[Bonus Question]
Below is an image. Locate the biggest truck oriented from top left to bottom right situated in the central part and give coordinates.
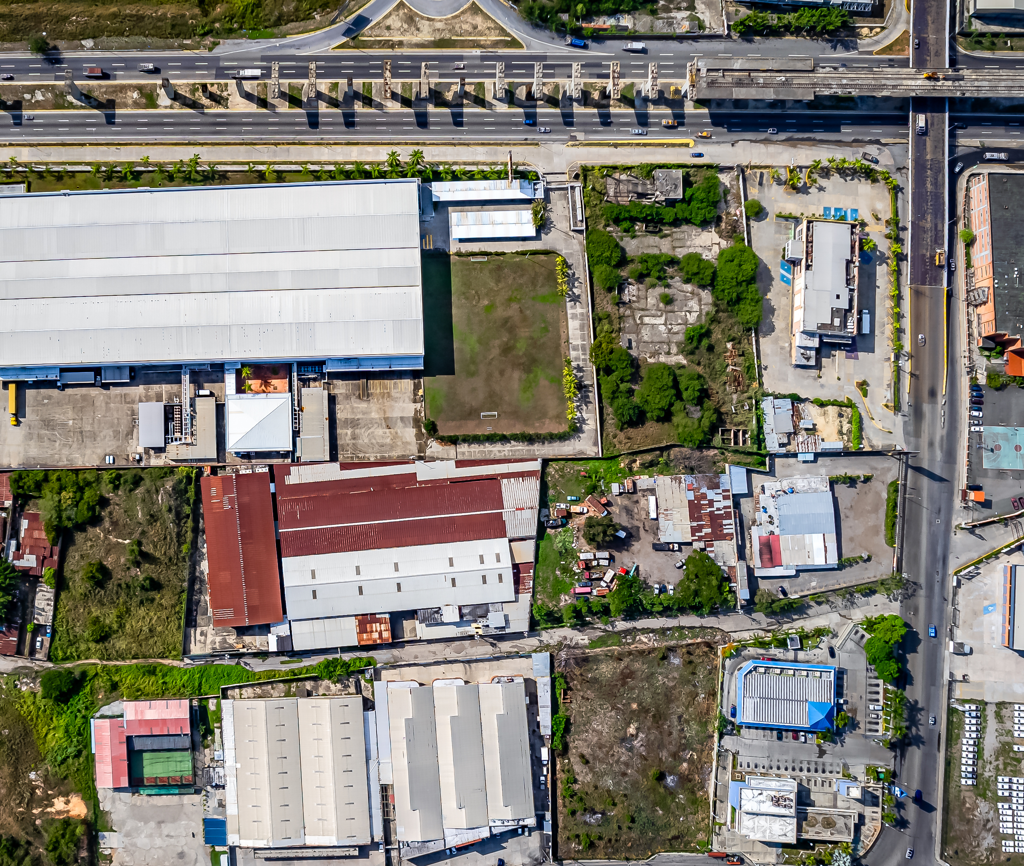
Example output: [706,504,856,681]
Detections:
[584,494,607,516]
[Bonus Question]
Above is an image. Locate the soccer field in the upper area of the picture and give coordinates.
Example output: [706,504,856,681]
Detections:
[424,251,574,433]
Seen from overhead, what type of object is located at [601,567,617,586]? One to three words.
vehicle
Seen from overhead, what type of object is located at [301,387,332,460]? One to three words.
shed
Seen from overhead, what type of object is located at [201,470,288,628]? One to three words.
building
